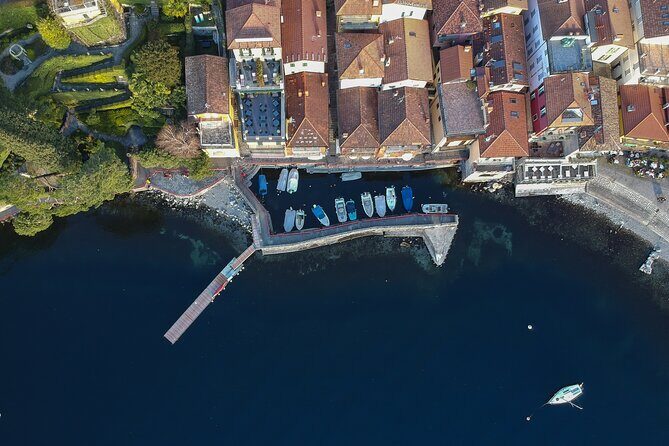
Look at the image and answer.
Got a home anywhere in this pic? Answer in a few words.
Yes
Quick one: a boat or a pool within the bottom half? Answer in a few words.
boat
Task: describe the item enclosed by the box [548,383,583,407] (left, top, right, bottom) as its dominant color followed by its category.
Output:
white boat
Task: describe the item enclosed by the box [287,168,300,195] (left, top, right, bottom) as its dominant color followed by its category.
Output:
white boat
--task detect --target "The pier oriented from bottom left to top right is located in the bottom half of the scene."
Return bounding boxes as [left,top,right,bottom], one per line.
[165,246,257,343]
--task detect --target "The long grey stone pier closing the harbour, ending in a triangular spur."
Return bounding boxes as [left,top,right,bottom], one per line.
[262,214,461,268]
